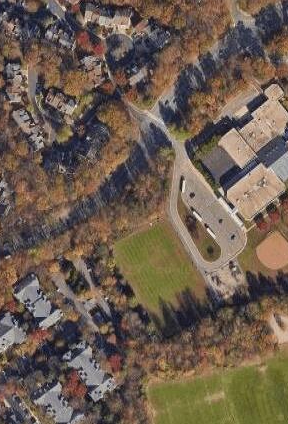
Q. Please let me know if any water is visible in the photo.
No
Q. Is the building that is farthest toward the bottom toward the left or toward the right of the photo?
left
